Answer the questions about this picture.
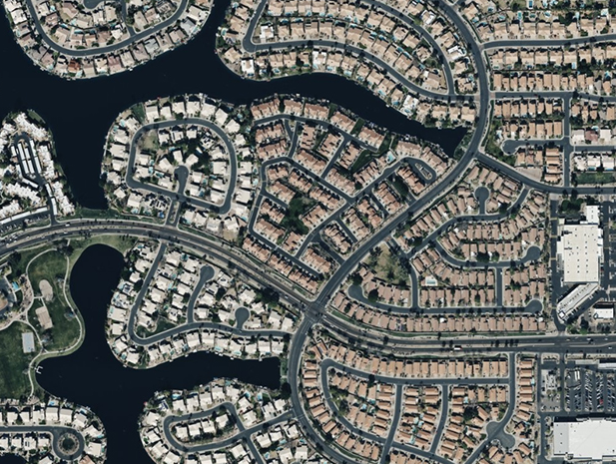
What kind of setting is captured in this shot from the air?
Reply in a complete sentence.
What you see here is a residential area.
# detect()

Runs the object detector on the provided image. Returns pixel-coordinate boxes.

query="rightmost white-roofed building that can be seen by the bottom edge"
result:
[554,418,616,462]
